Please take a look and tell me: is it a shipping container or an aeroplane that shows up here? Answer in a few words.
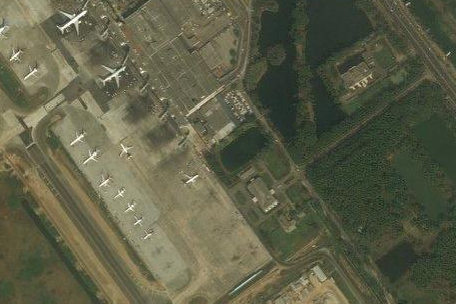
aeroplane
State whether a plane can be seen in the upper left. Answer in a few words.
Yes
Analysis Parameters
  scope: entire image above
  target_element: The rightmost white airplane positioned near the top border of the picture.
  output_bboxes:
[57,11,87,36]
